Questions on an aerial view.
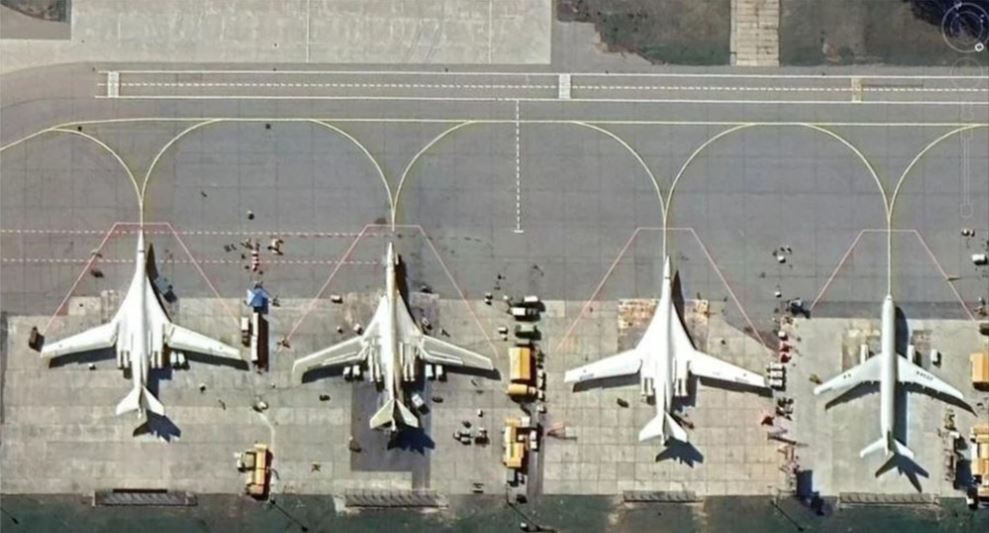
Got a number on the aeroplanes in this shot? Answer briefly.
four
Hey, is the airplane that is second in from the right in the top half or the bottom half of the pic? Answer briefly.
bottom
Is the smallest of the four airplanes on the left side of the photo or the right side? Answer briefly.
right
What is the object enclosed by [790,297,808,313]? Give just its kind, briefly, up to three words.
work vehicle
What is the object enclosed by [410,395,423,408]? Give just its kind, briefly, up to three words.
vehicle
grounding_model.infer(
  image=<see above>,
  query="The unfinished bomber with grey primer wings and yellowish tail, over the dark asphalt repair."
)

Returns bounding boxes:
[292,241,494,431]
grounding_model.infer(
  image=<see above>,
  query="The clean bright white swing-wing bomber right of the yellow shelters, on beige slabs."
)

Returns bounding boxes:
[564,257,766,444]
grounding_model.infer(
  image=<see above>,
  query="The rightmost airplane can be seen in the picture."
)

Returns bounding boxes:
[815,295,962,457]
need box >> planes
[292,241,494,431]
[39,230,240,418]
[815,295,962,457]
[564,257,766,444]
